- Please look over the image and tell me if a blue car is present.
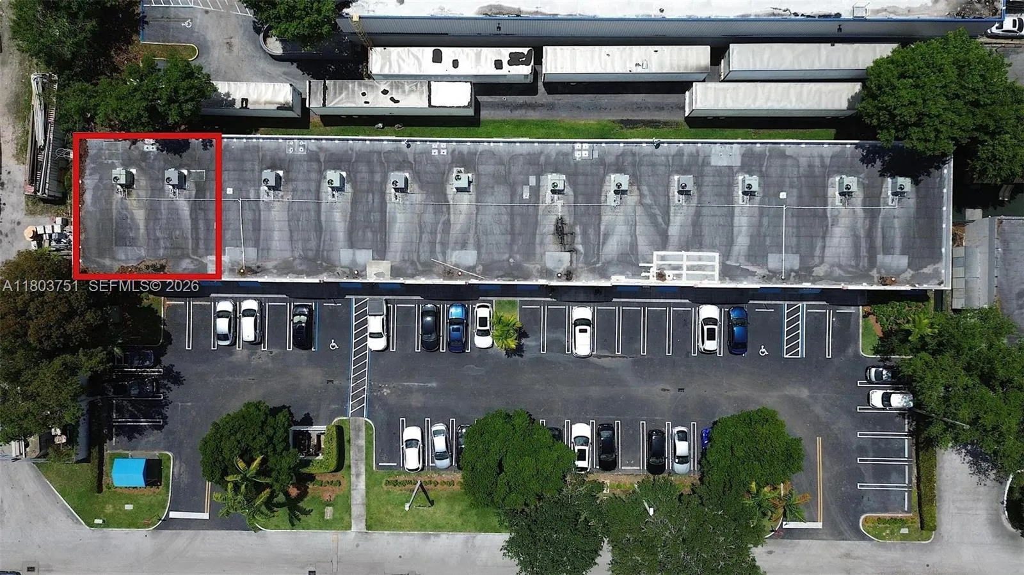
Yes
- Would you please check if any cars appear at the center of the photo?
Yes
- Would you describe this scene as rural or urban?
urban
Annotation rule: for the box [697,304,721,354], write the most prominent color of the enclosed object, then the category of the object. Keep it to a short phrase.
white car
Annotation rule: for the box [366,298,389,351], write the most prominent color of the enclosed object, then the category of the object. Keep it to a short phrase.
white truck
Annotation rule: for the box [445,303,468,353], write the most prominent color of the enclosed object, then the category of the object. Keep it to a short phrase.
blue car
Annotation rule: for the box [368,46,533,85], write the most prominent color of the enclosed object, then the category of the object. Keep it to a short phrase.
white trailer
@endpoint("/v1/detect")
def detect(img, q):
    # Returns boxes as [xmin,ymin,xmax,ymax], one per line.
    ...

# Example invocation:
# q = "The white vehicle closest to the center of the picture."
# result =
[472,303,493,349]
